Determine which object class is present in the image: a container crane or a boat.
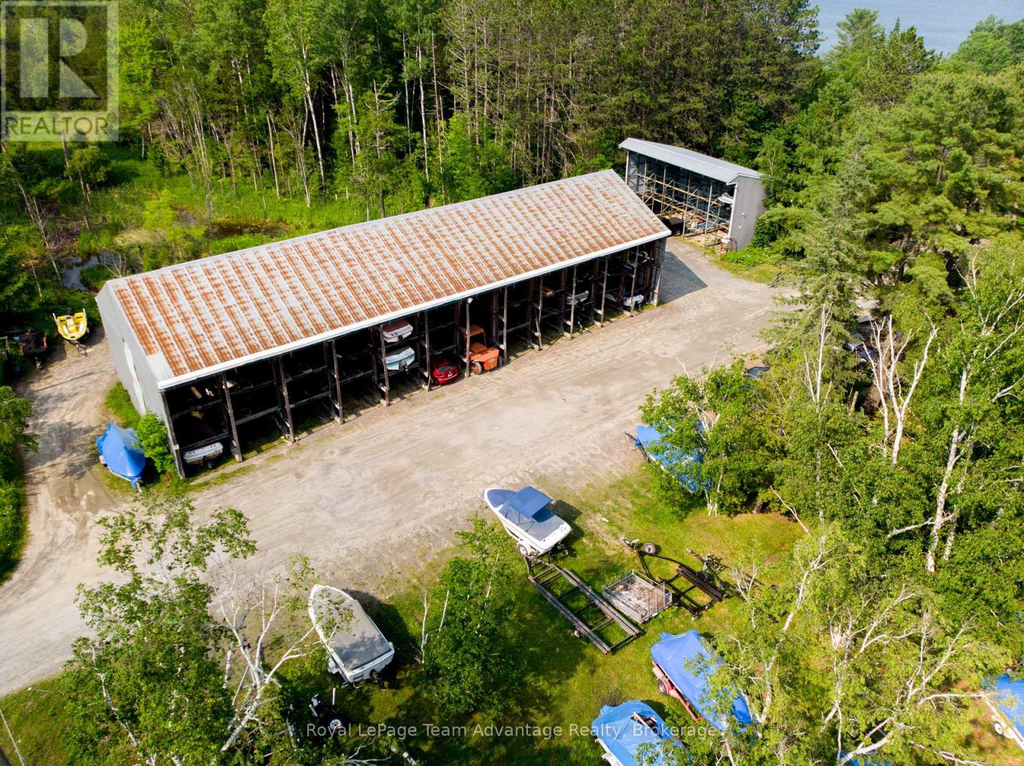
boat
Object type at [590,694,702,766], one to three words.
boat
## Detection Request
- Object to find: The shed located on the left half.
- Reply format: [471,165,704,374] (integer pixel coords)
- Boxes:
[92,168,672,482]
